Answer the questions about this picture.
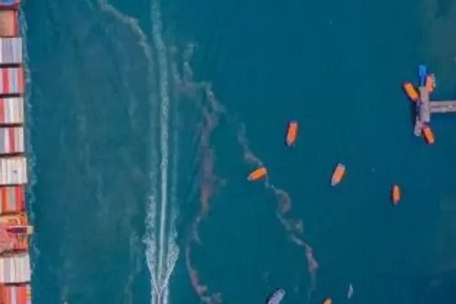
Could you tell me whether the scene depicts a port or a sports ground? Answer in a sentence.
This image shows a port.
